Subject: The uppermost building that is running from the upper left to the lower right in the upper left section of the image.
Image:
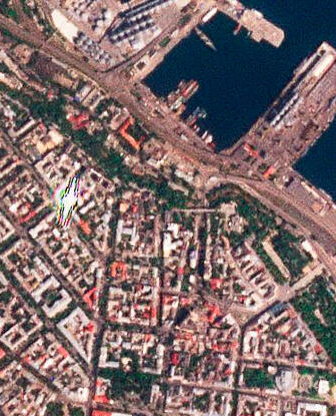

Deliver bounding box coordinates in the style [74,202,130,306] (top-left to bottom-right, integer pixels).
[51,8,79,39]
